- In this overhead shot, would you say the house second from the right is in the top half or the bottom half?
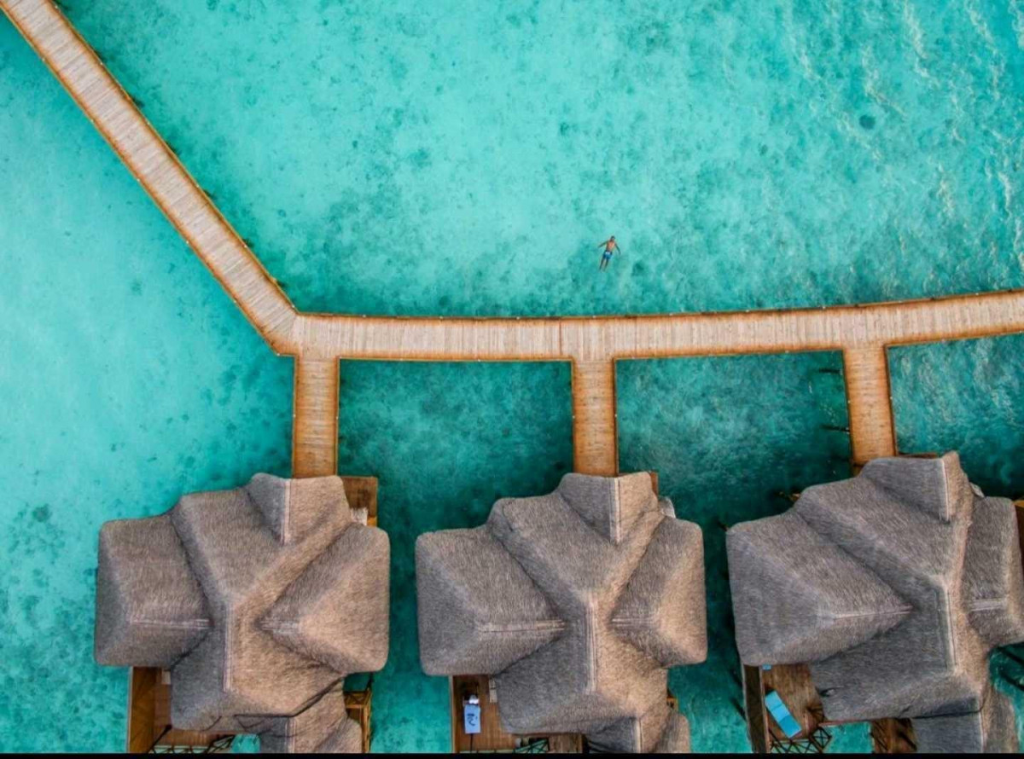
bottom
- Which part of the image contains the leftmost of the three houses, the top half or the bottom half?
bottom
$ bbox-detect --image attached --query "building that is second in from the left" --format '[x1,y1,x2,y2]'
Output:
[416,467,707,759]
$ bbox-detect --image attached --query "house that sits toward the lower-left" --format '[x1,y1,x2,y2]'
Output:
[95,470,391,759]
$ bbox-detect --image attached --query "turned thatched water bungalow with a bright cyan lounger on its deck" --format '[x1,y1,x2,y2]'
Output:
[710,450,1024,759]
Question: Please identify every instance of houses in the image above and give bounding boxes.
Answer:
[710,450,1024,759]
[416,467,707,759]
[95,470,391,759]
